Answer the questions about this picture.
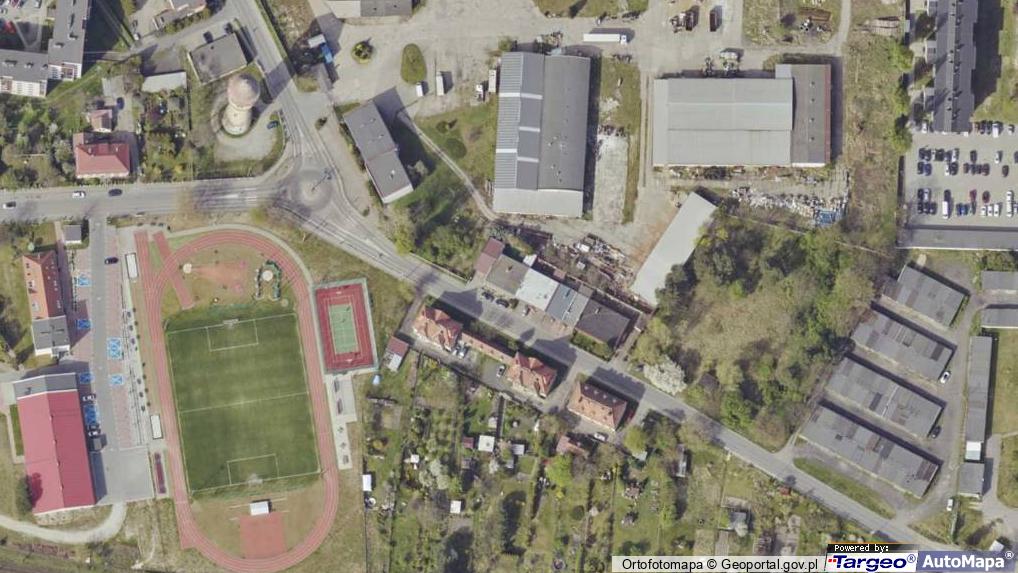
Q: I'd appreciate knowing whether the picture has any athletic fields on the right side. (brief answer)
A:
No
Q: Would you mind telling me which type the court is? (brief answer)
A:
basketball court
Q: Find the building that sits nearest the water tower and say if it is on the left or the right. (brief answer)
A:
left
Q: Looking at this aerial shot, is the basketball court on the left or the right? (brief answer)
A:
left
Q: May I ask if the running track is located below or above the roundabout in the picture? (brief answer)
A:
below it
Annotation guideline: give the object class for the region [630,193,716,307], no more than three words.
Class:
shed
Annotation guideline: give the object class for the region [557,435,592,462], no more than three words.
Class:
house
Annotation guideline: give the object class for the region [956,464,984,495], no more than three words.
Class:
building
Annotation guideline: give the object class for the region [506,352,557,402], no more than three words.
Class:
house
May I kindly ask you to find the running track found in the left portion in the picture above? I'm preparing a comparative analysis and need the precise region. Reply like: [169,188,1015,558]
[134,231,340,573]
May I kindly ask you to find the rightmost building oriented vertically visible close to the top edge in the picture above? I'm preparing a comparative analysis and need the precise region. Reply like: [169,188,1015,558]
[921,0,978,141]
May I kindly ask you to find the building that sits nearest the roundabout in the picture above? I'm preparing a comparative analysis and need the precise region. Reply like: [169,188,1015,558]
[342,102,411,202]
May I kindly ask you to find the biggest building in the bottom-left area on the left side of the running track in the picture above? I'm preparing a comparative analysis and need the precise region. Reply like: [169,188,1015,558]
[18,389,95,517]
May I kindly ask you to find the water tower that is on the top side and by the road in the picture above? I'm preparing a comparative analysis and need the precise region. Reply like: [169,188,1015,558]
[219,75,259,139]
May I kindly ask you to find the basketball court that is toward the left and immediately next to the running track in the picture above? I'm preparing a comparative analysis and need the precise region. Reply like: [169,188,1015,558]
[313,279,379,376]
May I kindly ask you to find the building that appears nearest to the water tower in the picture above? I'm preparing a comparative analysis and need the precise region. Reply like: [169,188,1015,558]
[189,33,247,87]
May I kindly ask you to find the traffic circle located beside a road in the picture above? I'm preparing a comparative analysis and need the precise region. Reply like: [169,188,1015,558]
[279,159,345,221]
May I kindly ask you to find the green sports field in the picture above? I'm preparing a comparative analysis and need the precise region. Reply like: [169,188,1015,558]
[166,299,322,499]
